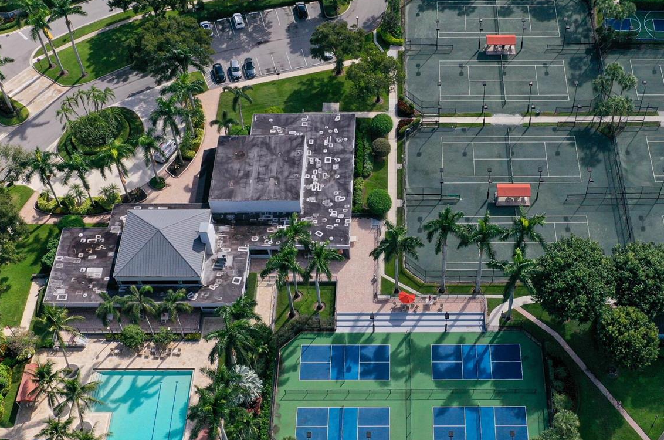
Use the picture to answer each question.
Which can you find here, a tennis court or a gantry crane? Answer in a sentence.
Of the two, only a tennis court appears.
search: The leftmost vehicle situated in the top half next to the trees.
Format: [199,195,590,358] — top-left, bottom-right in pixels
[154,135,181,162]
